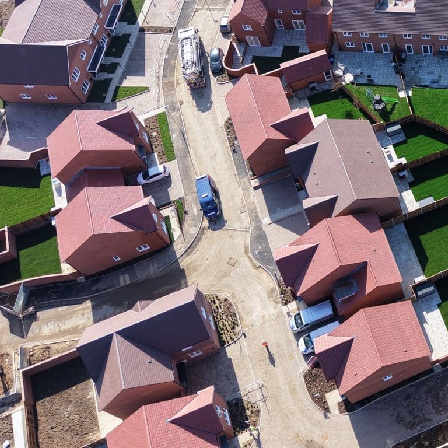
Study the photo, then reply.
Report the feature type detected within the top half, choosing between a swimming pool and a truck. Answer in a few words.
truck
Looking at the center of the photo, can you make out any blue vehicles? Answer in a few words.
Yes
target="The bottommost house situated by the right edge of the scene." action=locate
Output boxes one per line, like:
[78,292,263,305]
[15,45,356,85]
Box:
[314,300,433,402]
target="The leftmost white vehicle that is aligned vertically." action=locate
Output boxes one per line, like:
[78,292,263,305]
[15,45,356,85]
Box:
[177,28,209,86]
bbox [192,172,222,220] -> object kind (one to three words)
van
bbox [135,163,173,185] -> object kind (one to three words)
car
